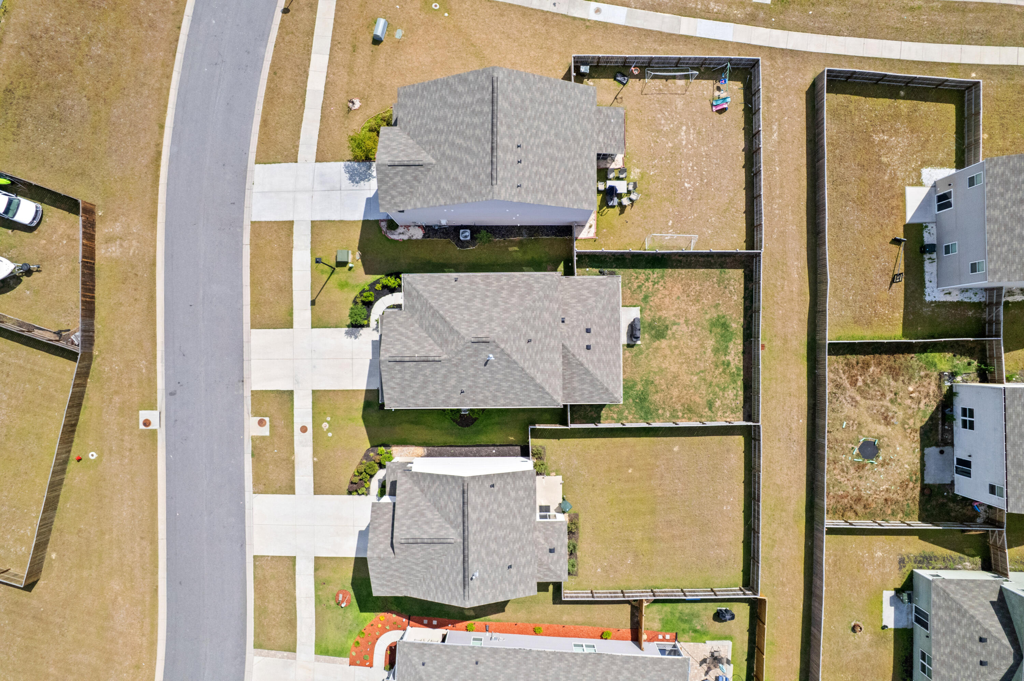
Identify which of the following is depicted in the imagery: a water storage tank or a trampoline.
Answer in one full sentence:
The image shows a trampoline.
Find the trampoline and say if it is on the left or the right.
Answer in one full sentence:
You can find the trampoline on the right side of the picture.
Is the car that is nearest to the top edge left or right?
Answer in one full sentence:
You can find the car that is nearest to the top edge on the left side of the picture.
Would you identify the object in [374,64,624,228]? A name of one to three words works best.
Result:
house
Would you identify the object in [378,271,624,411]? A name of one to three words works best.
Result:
house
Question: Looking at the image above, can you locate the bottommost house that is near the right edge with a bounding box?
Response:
[913,570,1024,681]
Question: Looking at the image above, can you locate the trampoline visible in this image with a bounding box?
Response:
[858,437,884,463]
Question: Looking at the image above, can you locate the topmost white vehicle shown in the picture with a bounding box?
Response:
[0,191,44,227]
